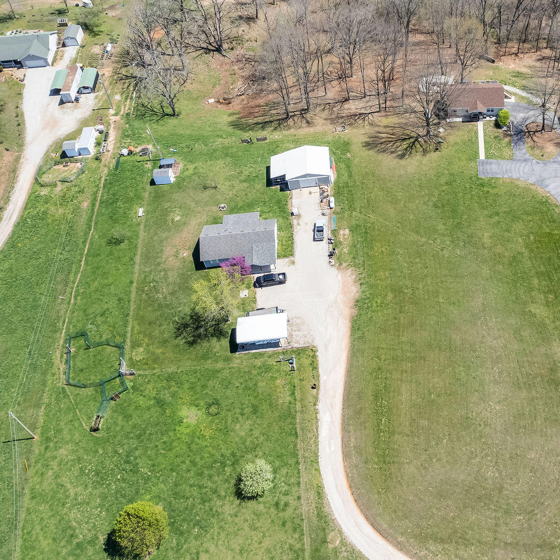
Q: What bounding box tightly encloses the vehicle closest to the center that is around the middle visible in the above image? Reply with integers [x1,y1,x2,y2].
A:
[255,270,285,285]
